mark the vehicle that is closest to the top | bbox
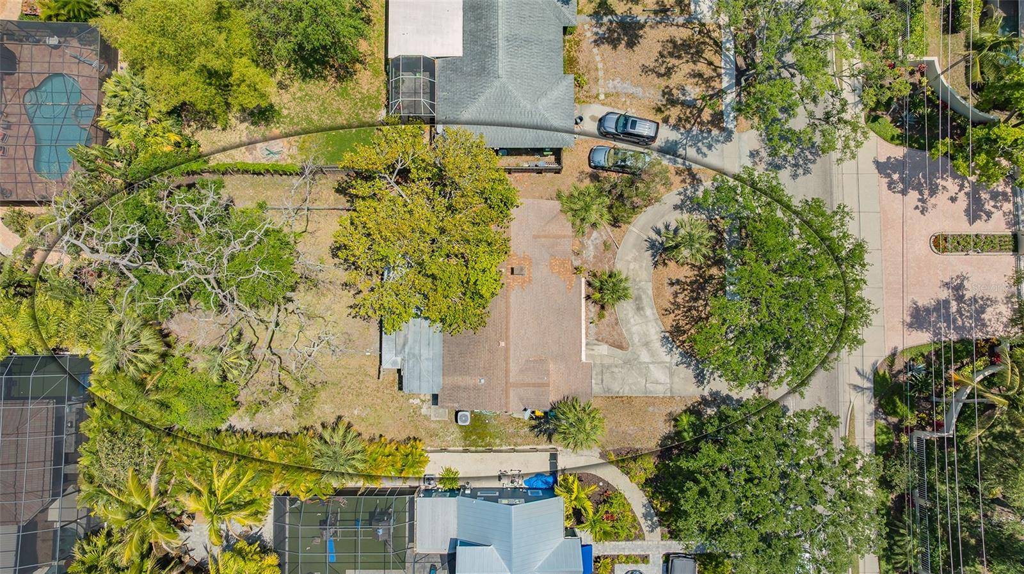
[594,108,661,146]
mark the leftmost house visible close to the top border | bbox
[435,0,578,148]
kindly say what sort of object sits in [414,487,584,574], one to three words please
house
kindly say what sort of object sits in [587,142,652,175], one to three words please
car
